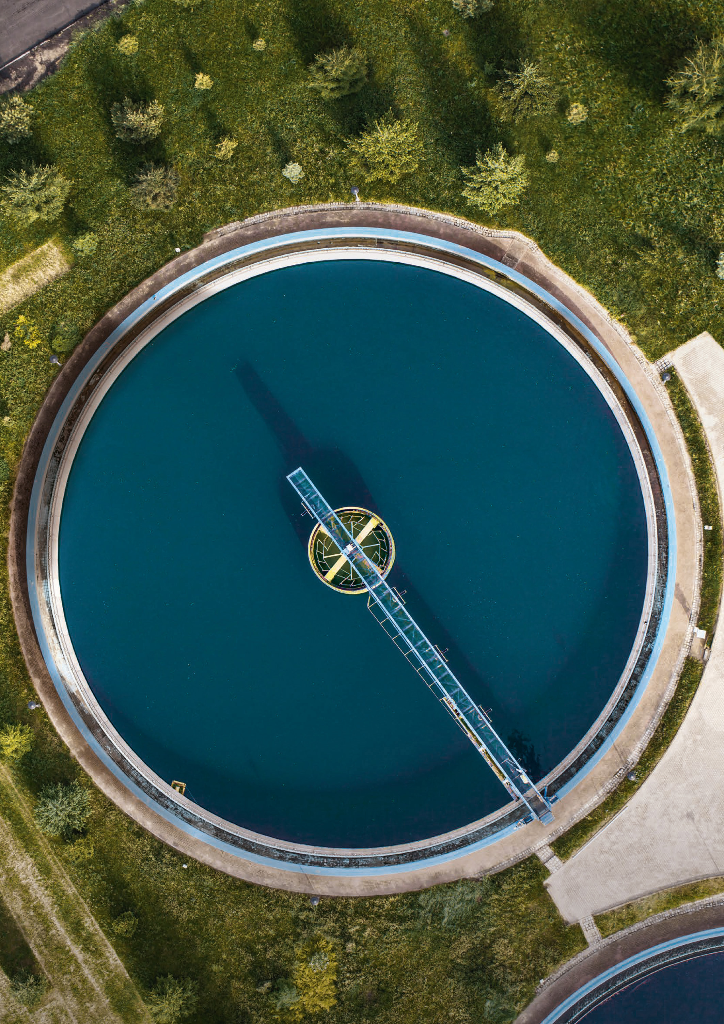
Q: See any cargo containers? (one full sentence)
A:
No, the photo shows no cargo container.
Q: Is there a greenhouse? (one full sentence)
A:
No, I find no greenhouse anywhere in the image.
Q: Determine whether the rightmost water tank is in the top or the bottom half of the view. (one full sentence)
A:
It is in the bottom half that the rightmost water tank appears.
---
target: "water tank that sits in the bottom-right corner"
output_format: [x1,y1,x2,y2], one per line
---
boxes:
[535,924,724,1024]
